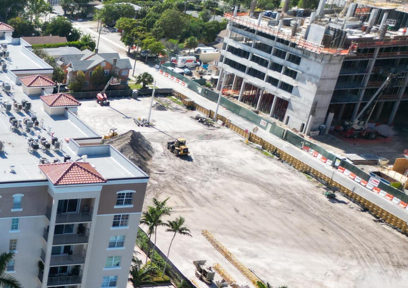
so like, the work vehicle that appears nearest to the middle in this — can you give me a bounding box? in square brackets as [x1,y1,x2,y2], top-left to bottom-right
[159,137,194,156]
